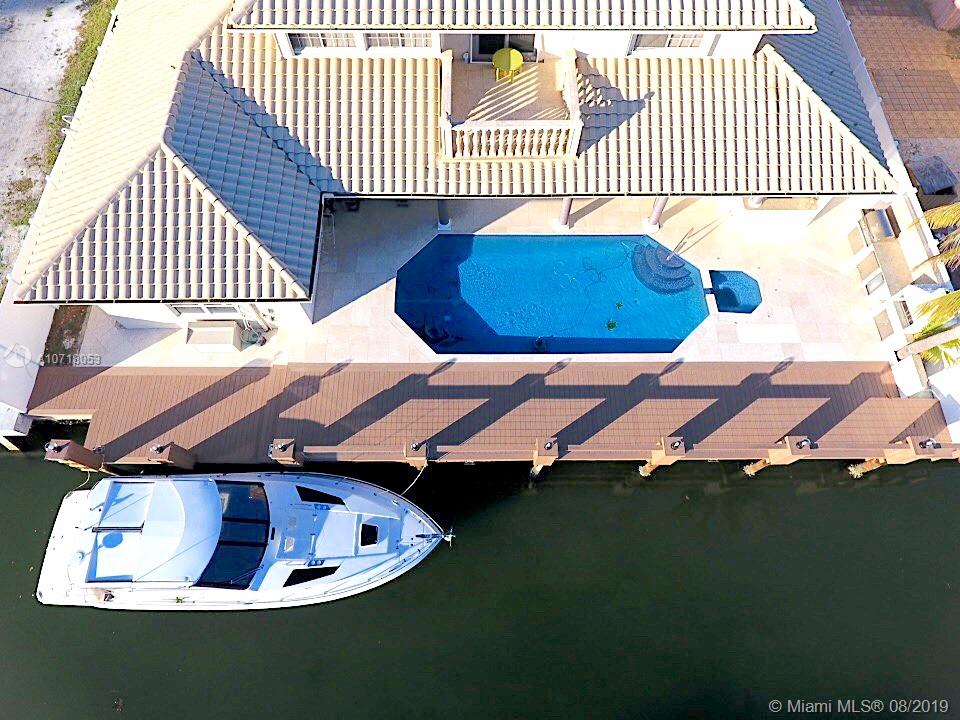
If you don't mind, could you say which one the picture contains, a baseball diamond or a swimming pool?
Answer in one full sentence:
It is a swimming pool that can be seen here.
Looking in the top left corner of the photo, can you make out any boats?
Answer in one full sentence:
No, I see no boat in the top left corner of the photo.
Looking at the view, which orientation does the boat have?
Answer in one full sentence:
What the image shows is the boat lying from side to side.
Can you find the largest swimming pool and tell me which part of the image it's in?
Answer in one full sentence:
The largest swimming pool is in the center part of the image.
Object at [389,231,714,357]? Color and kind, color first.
blue swimming pool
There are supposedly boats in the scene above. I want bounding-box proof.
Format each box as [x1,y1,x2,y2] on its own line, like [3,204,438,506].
[39,468,456,613]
